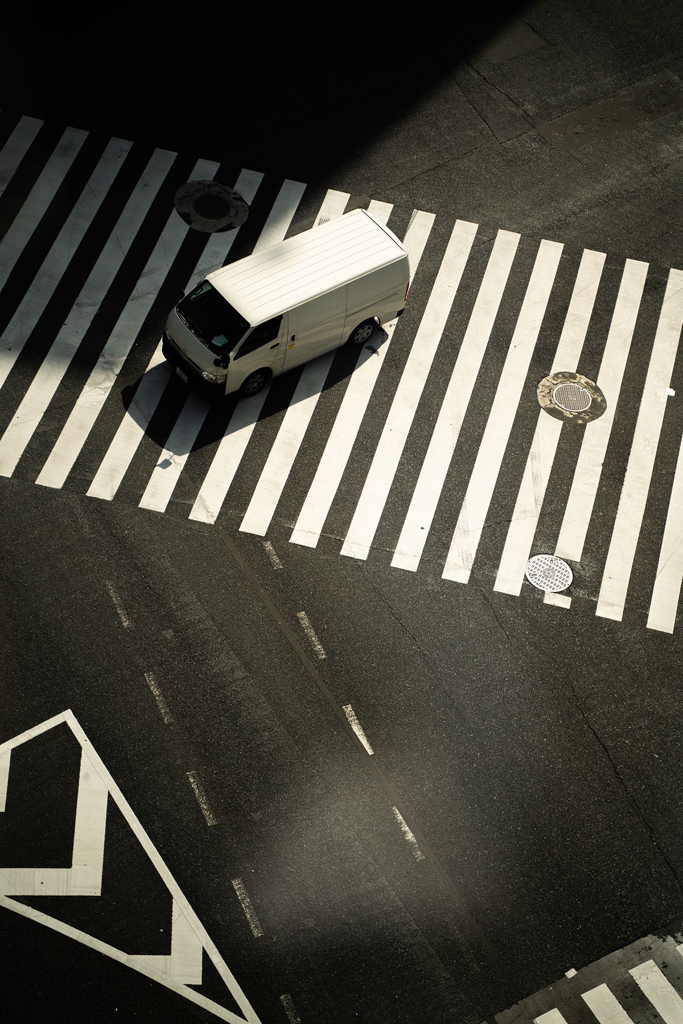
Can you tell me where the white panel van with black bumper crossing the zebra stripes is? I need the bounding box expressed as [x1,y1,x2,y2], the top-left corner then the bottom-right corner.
[164,210,408,398]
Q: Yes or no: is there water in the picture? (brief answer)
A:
No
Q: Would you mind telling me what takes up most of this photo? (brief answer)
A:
paved ground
